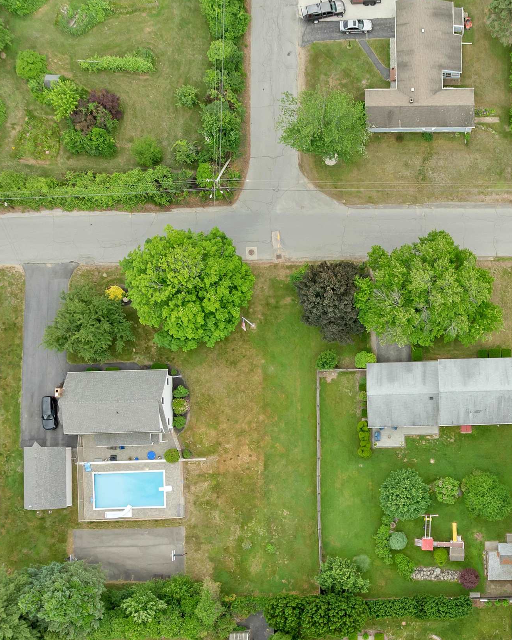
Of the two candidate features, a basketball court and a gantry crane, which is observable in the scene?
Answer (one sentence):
Visible in the photo is a basketball court.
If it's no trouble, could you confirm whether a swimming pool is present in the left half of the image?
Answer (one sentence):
Yes, you'll find a swimming pool in the left half of the image.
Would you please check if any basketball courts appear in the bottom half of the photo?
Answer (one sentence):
Yes, I can see a basketball court in the bottom half of the photo.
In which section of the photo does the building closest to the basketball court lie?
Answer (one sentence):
The building closest to the basketball court is located in the bottom left region of the scene.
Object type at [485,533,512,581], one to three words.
shed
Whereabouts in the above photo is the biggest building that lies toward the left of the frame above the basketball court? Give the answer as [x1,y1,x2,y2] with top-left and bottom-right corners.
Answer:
[55,369,182,446]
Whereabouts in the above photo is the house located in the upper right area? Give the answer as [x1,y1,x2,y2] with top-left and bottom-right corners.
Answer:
[365,0,476,133]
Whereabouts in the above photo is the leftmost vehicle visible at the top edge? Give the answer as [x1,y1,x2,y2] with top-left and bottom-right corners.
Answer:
[298,0,345,23]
